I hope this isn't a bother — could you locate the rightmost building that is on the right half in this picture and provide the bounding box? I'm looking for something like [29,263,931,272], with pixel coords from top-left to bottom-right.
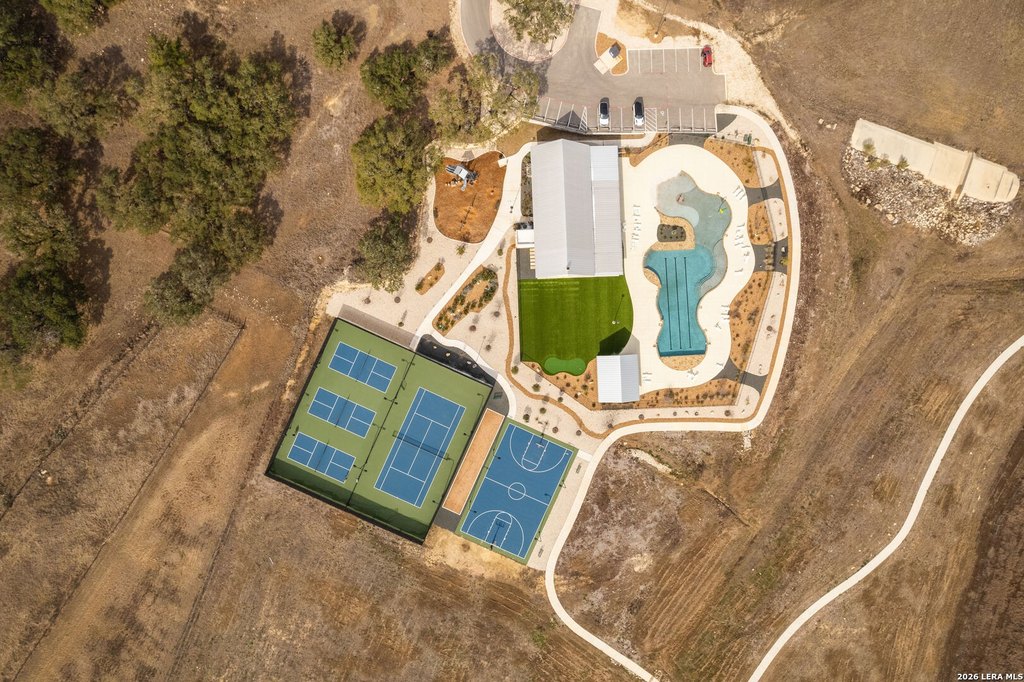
[596,354,640,403]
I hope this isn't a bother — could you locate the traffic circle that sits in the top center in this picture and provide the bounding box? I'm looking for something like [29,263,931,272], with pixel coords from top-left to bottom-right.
[489,0,577,62]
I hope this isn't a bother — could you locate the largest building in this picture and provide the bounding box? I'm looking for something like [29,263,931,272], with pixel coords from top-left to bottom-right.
[518,140,623,279]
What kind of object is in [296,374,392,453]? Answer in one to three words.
sports court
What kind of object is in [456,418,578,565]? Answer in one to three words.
basketball court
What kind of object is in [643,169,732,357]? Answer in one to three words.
swimming pool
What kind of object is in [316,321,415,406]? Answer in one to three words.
sports court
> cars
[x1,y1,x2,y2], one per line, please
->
[599,103,610,126]
[634,103,644,126]
[702,45,712,67]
